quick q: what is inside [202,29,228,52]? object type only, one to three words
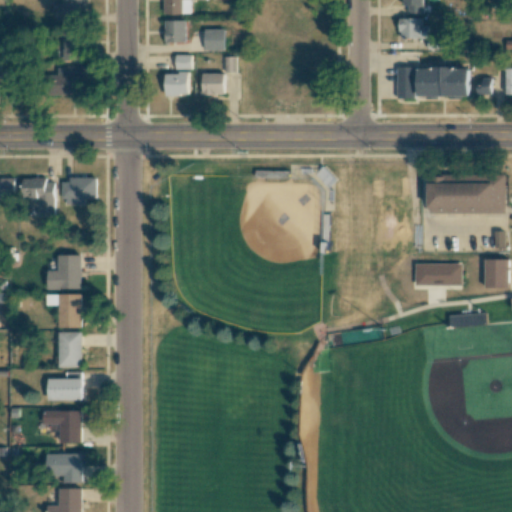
building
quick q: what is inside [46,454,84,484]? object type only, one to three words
house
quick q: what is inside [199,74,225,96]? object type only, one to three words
house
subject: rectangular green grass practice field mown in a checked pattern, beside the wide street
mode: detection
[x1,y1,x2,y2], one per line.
[156,326,311,512]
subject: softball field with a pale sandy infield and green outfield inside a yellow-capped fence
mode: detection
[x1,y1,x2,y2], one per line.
[170,176,322,334]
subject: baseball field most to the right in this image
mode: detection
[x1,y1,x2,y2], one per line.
[298,320,512,512]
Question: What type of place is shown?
sports ground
